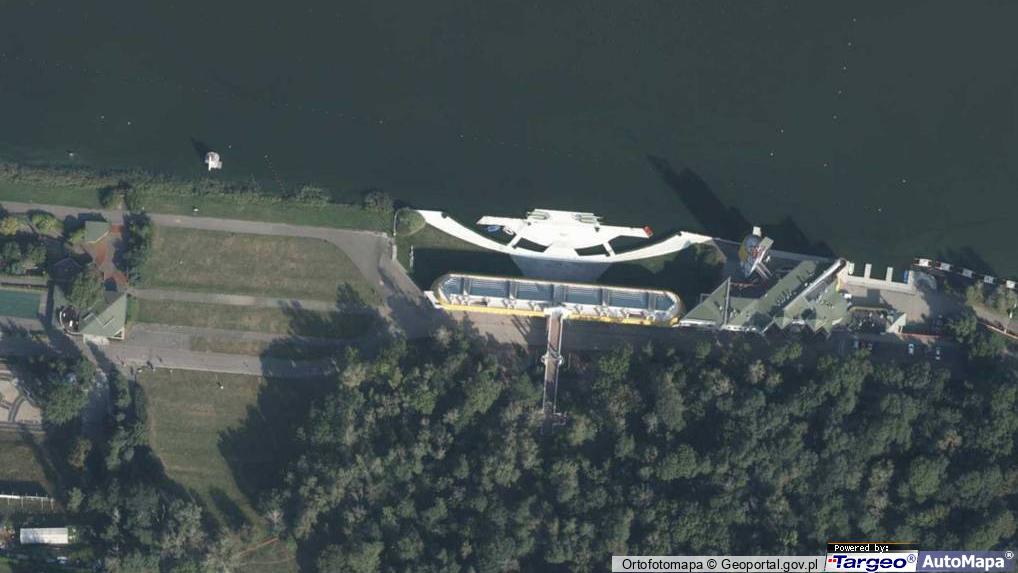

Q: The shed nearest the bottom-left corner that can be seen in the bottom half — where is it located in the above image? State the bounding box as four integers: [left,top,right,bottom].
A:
[20,528,69,545]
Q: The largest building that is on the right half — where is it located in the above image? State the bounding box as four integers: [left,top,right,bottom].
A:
[680,258,849,334]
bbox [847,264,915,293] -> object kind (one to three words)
pier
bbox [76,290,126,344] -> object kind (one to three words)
building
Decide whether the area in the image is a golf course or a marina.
marina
